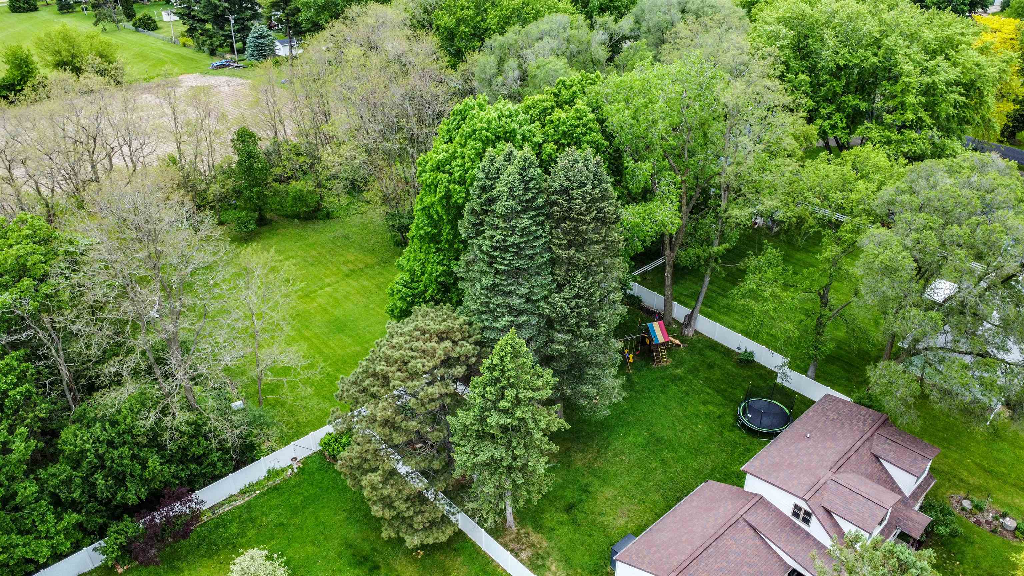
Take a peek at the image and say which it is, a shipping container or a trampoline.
trampoline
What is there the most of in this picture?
trees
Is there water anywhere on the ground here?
No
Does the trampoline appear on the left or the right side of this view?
right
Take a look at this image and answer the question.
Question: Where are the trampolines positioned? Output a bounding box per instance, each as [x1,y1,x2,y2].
[735,382,795,439]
